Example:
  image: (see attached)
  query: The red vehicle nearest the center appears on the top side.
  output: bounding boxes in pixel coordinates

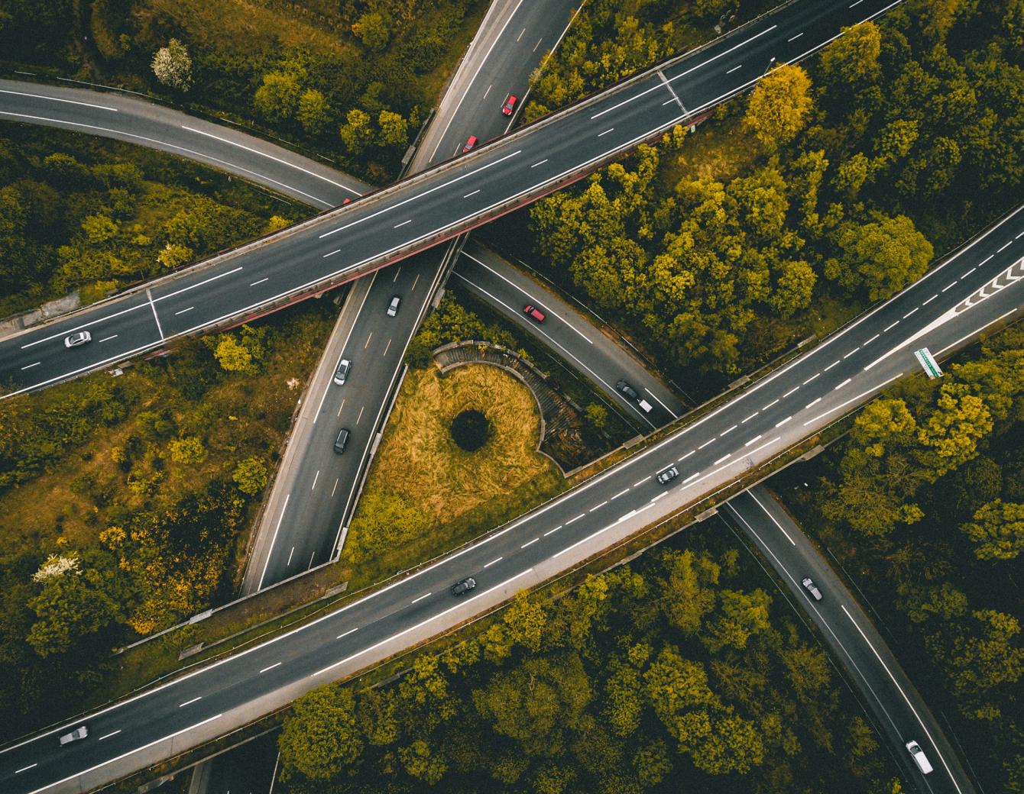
[522,304,547,323]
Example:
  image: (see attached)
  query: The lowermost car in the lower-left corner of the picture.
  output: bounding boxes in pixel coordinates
[56,726,87,748]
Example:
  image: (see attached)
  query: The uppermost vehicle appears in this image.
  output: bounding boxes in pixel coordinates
[501,90,519,115]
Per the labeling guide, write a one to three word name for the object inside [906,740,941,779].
van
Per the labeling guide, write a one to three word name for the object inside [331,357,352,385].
car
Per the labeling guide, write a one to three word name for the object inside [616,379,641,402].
car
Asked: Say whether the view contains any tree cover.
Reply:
Yes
